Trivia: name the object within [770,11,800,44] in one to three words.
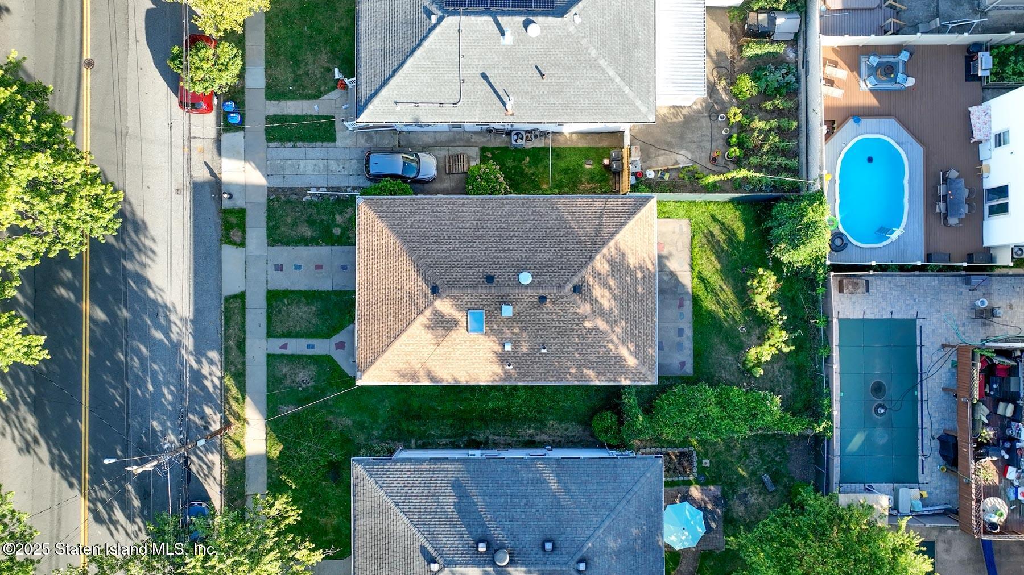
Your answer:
shed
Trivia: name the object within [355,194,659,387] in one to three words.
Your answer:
house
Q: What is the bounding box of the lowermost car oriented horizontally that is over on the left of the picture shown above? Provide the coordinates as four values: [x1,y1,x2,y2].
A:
[365,148,437,183]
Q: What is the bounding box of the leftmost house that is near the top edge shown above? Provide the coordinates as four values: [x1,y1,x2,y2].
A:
[355,0,657,131]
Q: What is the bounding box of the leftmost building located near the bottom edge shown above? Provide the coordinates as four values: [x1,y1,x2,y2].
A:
[350,446,665,575]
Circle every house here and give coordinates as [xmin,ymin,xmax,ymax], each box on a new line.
[983,88,1024,248]
[355,194,659,387]
[355,0,657,131]
[350,446,665,575]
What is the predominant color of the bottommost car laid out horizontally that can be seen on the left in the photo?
blue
